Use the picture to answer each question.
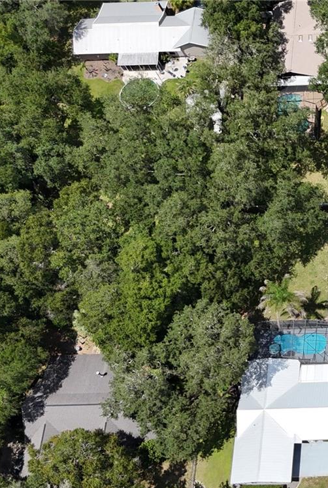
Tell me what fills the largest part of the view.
trees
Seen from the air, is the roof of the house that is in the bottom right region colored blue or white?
white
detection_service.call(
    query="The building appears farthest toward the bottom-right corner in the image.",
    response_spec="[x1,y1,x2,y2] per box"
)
[231,355,328,486]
